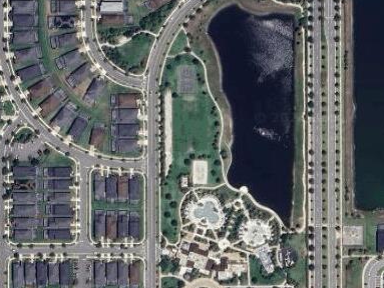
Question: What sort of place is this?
residential area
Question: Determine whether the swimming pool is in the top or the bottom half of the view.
bottom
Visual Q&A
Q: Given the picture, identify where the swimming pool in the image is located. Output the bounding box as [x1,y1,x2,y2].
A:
[194,200,220,225]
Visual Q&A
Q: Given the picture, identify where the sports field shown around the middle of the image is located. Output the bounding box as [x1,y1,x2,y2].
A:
[174,99,218,155]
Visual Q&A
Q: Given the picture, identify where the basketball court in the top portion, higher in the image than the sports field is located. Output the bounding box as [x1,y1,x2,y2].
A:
[178,64,197,95]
